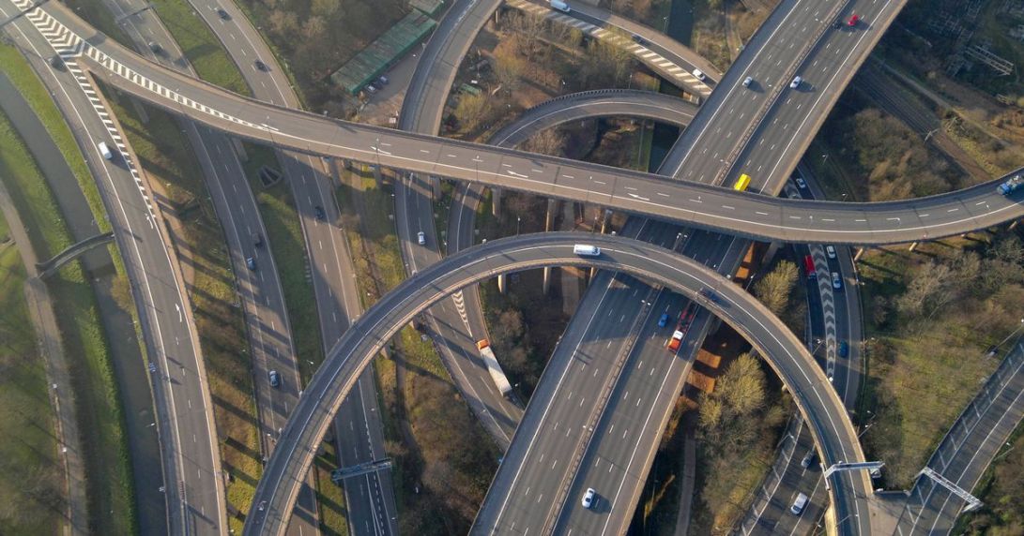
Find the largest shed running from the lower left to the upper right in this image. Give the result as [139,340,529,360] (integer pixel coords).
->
[330,10,436,97]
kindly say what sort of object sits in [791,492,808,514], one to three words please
vehicle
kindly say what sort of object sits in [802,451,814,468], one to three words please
vehicle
